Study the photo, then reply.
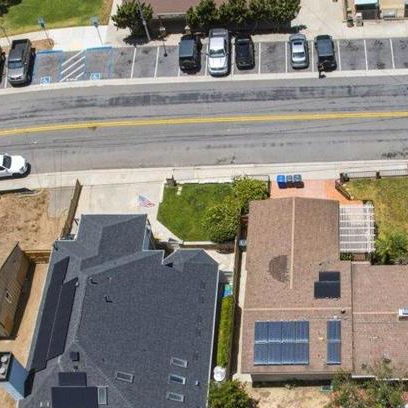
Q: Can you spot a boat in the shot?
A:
No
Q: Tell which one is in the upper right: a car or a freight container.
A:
car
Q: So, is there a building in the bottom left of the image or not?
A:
Yes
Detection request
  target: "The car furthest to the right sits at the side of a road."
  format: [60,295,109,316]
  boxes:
[315,31,337,73]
